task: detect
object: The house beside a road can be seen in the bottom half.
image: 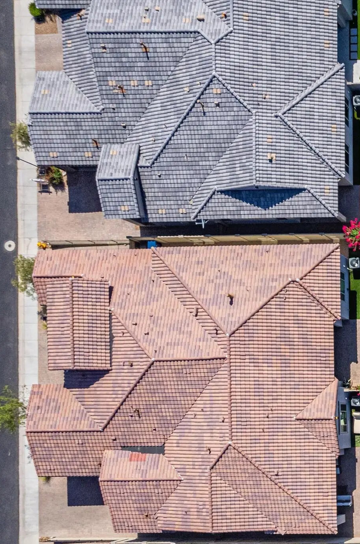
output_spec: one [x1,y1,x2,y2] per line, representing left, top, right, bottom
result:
[24,242,348,535]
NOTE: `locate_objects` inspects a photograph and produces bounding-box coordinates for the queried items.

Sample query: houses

[24,242,348,535]
[27,0,352,222]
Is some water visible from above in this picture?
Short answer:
No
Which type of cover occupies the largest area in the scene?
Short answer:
buildings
